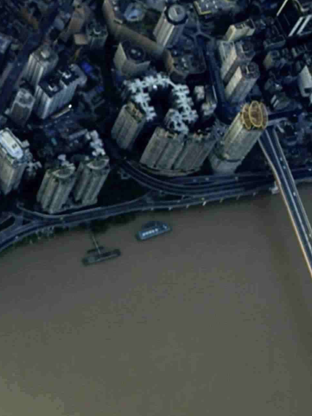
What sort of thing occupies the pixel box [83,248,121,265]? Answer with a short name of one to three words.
ship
